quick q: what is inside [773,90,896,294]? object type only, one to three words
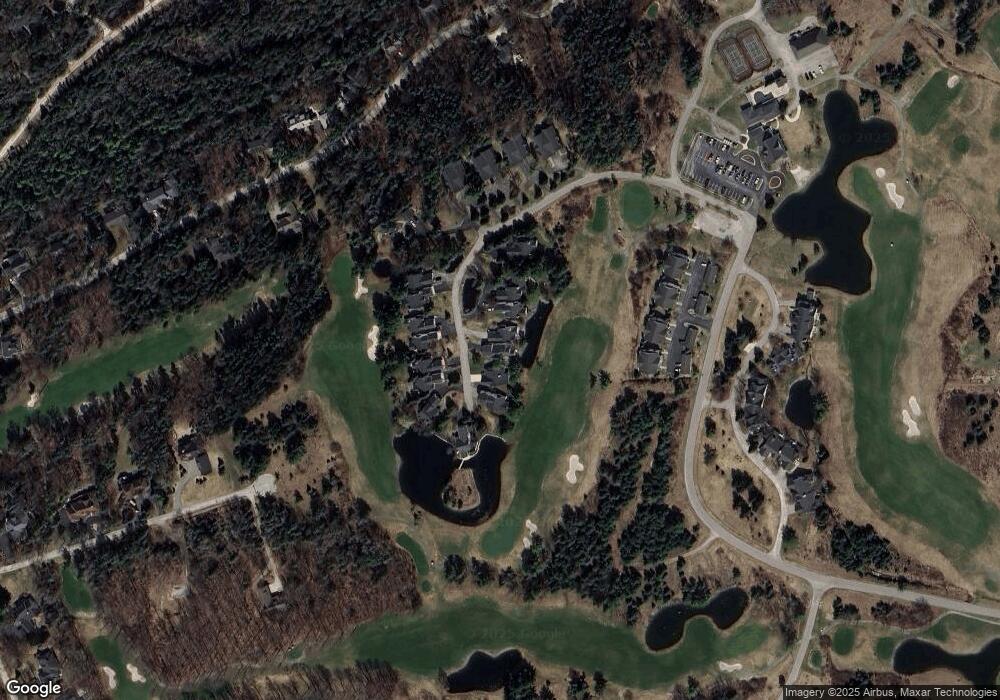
pond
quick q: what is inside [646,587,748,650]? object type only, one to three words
pond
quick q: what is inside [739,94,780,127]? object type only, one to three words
building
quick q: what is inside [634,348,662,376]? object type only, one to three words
house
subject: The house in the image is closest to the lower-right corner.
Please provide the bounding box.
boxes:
[785,473,817,512]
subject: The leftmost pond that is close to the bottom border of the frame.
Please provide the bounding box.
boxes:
[446,650,529,692]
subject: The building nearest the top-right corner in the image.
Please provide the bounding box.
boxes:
[787,27,829,62]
